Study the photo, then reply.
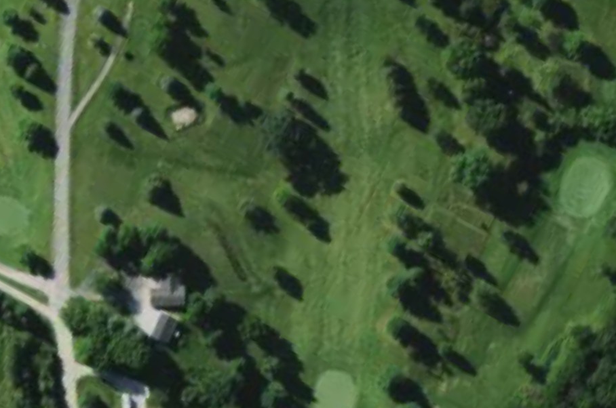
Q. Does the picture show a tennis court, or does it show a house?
house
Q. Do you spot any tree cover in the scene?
Yes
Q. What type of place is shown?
golf course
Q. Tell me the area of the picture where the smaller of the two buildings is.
bottom left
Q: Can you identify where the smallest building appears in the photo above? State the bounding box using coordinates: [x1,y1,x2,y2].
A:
[151,309,178,344]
